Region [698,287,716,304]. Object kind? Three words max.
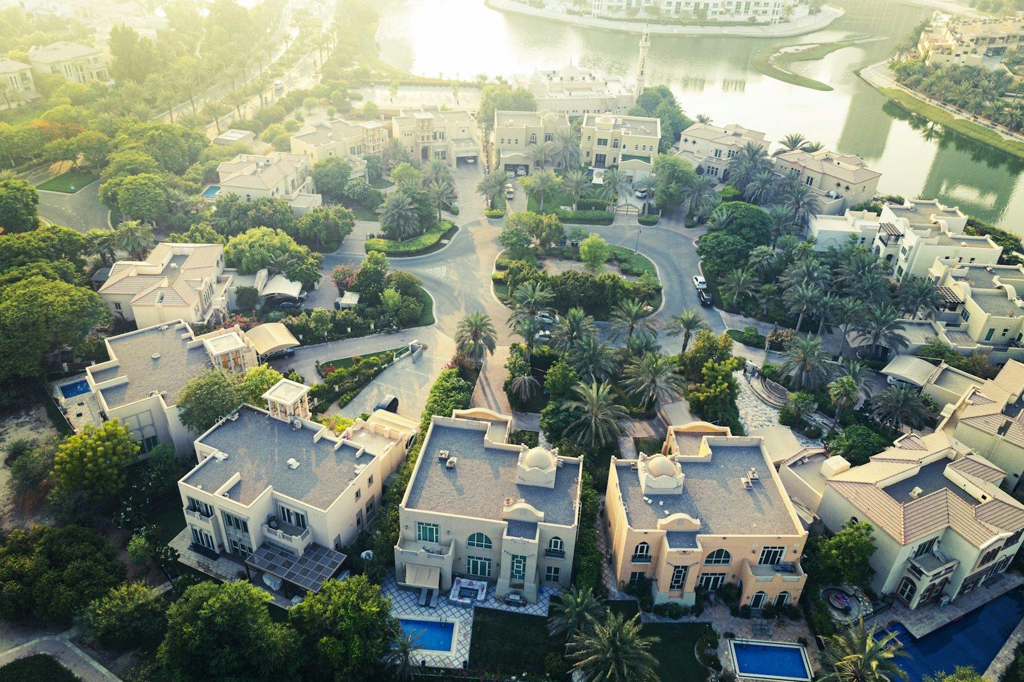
car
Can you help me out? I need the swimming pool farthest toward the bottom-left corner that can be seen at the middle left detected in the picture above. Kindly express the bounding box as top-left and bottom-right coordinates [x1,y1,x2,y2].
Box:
[53,378,94,400]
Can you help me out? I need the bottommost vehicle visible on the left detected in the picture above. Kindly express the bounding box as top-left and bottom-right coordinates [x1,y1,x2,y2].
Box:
[371,393,401,414]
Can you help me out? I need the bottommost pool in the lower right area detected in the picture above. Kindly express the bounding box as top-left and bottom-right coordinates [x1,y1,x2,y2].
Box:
[728,633,815,682]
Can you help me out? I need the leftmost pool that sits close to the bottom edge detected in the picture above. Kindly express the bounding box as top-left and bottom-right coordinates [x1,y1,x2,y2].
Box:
[380,612,460,658]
